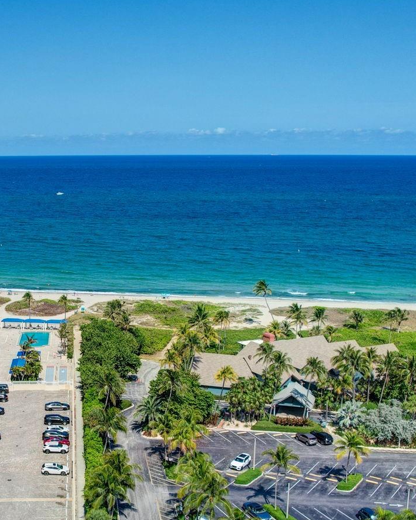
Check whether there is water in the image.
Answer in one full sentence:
Yes, there is water in the image.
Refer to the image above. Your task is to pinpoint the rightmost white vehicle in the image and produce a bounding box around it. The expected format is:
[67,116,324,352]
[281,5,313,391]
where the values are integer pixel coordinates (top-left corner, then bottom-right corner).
[230,452,251,470]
